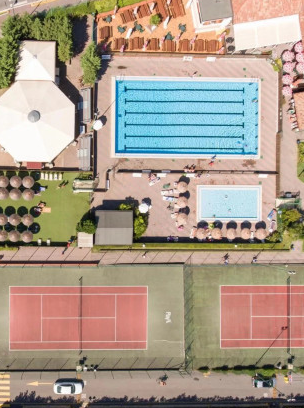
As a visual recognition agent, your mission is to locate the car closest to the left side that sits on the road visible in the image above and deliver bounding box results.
[55,382,82,397]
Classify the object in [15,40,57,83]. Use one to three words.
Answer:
tent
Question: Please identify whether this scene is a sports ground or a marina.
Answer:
sports ground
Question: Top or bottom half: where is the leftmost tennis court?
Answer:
bottom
